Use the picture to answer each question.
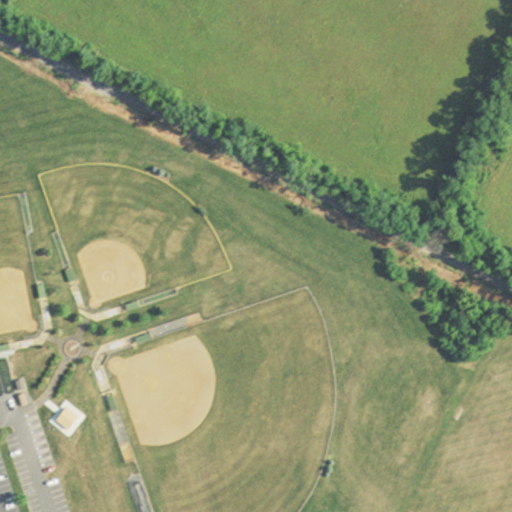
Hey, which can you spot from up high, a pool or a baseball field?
baseball field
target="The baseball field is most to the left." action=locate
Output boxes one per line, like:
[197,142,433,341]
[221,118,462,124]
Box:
[0,194,43,345]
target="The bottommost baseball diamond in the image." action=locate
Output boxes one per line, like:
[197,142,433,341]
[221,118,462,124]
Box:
[106,288,335,512]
